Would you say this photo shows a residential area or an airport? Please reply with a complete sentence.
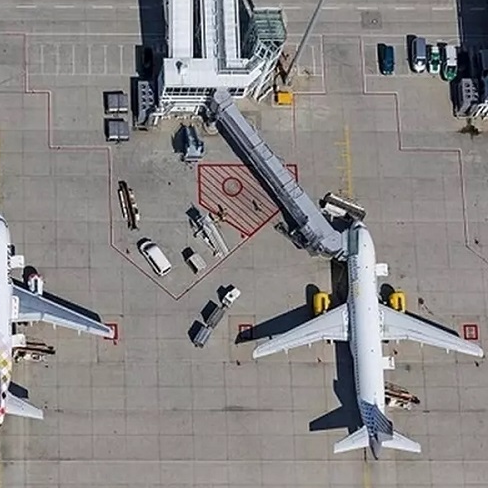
What you see here is an airport.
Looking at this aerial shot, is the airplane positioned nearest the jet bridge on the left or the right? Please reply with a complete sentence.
It is on the right.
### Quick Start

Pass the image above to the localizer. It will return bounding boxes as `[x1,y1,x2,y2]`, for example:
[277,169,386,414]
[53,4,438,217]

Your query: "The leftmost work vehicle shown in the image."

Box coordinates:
[16,345,56,369]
